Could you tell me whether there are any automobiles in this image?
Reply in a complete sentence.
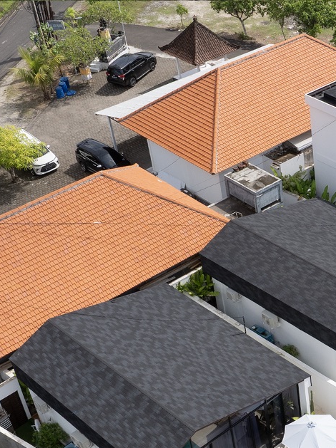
Yes, I can see an automobile in this picture.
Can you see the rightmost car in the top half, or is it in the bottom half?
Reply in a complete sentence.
It is in the top half that the rightmost car appears.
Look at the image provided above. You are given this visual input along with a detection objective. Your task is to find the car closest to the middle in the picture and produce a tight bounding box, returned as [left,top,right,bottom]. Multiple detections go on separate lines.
[75,135,133,179]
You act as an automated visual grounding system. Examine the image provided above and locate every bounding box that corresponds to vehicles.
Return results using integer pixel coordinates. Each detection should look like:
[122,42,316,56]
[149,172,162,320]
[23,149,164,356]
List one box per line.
[105,51,156,86]
[75,135,133,179]
[11,127,59,177]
